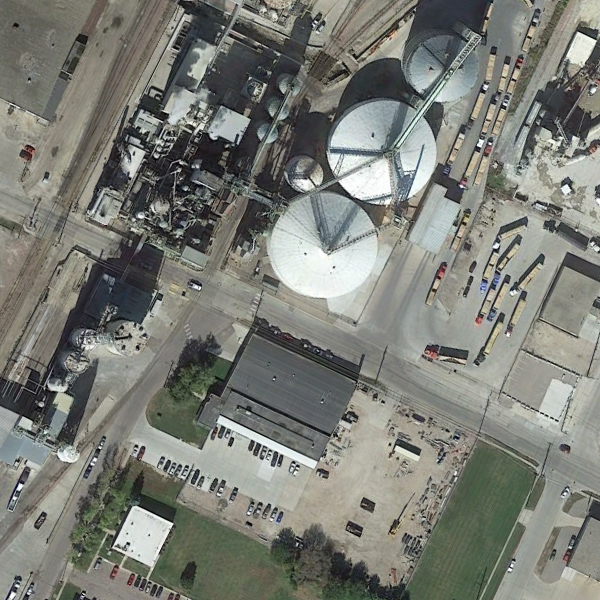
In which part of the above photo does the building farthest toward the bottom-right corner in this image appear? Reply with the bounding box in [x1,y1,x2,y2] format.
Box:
[567,515,600,582]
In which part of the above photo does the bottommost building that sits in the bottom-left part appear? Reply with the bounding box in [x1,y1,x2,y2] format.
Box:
[111,506,173,566]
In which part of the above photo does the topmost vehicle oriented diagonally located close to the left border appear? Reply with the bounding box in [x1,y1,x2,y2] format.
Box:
[21,142,35,161]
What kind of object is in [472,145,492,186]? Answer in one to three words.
vehicle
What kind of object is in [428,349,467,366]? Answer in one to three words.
vehicle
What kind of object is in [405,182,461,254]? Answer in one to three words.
shed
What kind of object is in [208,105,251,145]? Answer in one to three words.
building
